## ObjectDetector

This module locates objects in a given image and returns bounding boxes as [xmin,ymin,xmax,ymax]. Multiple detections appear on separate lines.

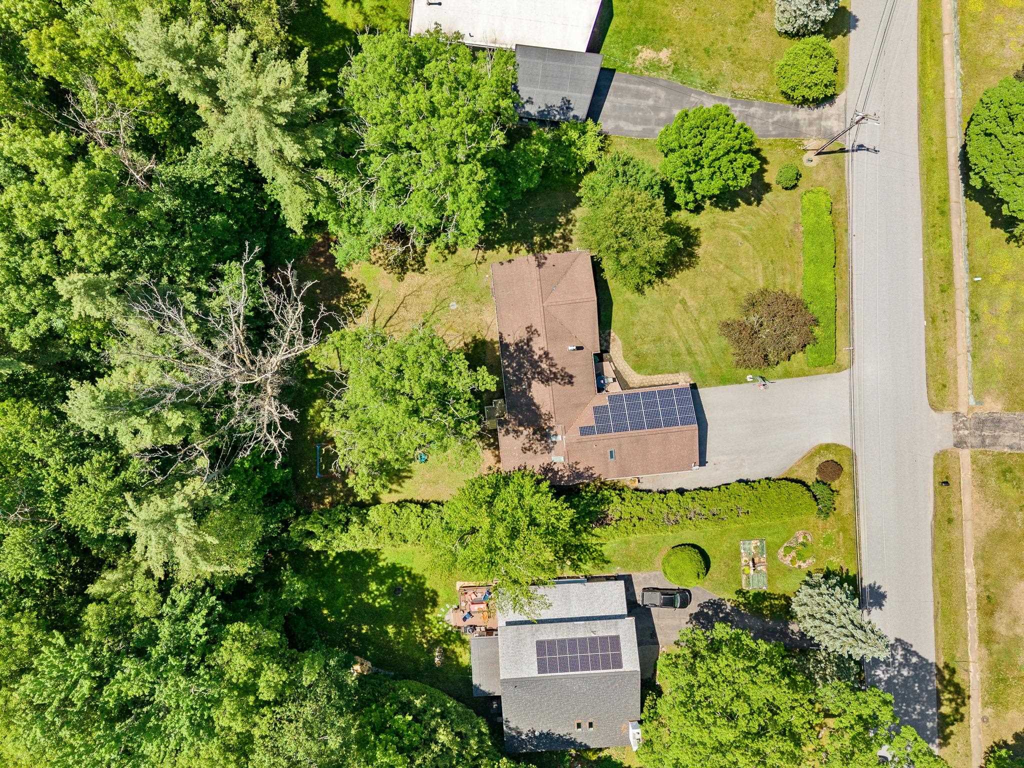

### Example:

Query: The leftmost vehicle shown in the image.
[637,586,691,610]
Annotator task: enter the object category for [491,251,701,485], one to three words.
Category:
house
